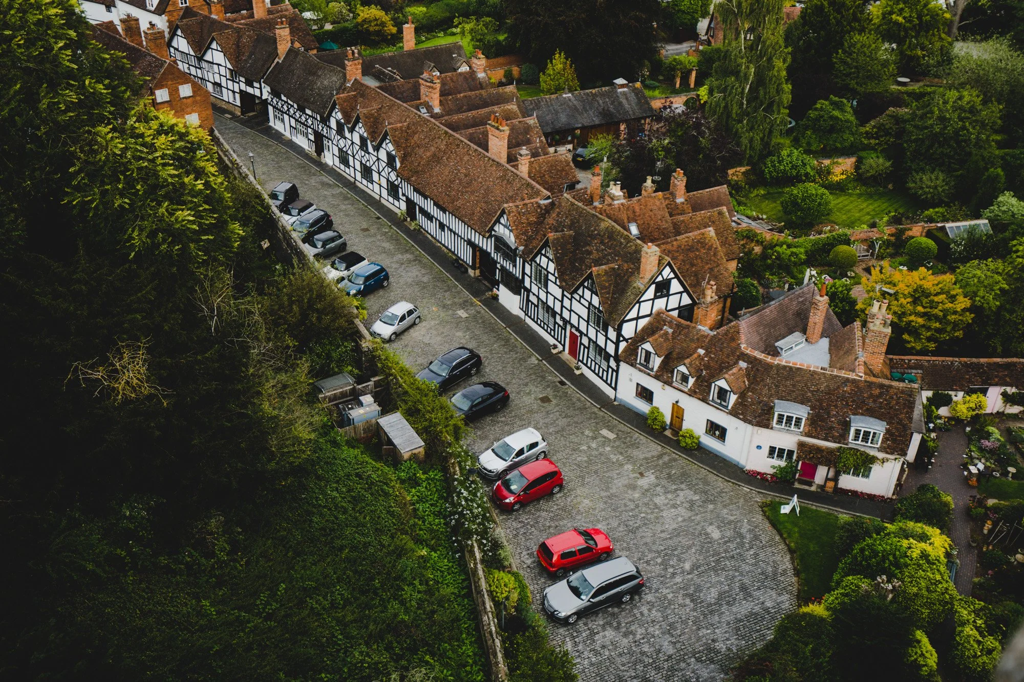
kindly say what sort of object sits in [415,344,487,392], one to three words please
car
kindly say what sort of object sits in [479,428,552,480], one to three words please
car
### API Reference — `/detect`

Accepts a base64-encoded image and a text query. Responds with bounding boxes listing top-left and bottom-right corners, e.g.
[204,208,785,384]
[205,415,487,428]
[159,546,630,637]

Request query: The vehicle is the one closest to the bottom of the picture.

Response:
[541,556,644,624]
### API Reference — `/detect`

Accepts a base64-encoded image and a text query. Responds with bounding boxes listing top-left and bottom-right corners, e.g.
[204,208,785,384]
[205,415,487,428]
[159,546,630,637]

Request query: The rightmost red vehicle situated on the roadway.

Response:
[535,526,612,577]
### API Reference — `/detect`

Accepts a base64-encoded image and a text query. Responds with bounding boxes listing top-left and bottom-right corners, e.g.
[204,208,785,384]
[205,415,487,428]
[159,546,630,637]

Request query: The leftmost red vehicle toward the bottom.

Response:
[494,459,567,511]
